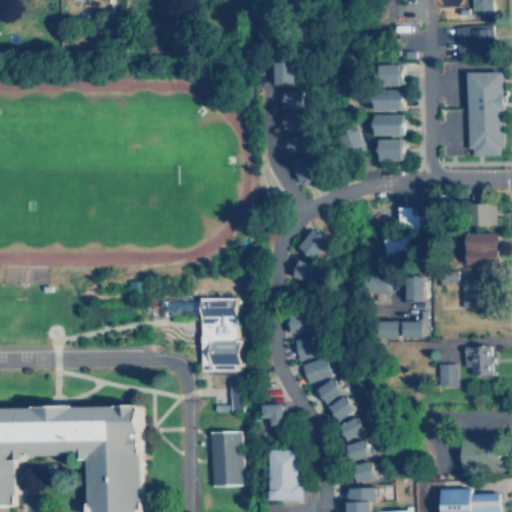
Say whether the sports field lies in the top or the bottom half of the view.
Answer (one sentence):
Seen from above, the sports field lies in the top half of the view.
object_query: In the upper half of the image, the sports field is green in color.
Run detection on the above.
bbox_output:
[0,92,240,248]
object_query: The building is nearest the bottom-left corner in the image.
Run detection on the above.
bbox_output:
[0,406,152,512]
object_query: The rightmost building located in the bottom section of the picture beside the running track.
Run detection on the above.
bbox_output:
[199,298,247,372]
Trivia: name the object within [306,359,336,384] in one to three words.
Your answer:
house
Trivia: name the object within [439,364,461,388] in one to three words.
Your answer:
building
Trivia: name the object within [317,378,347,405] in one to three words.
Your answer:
house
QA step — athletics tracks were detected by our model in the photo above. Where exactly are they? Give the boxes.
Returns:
[0,76,258,284]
